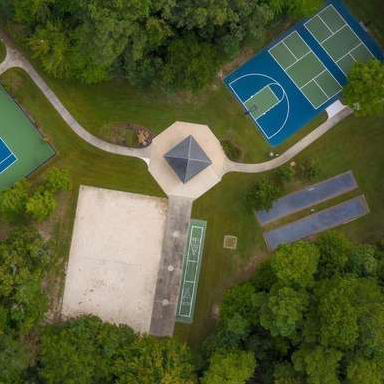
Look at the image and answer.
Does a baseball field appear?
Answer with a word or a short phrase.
No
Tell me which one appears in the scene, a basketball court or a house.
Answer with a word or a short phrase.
basketball court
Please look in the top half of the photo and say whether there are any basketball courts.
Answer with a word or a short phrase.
Yes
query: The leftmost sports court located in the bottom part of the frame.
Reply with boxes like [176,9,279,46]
[61,184,168,337]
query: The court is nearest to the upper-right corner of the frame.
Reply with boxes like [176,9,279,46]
[304,5,378,76]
